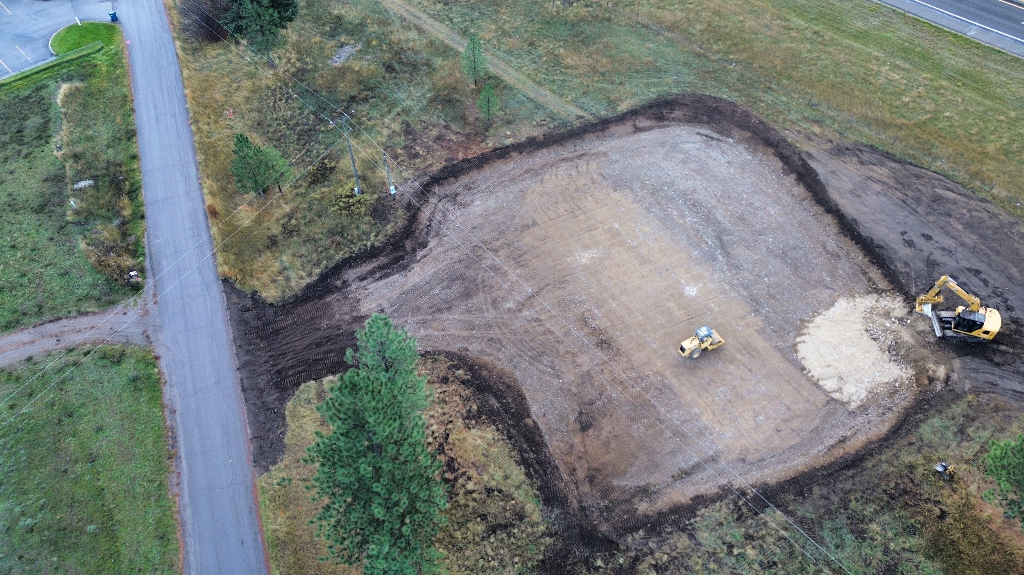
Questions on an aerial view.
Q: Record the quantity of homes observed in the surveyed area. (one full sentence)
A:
There are no homes in the image.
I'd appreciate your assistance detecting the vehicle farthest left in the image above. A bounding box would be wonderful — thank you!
[679,326,727,363]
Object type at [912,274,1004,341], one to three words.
work vehicle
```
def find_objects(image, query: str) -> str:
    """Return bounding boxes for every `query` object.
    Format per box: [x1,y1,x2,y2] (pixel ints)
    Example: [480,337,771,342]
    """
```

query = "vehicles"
[912,274,1004,341]
[679,326,727,363]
